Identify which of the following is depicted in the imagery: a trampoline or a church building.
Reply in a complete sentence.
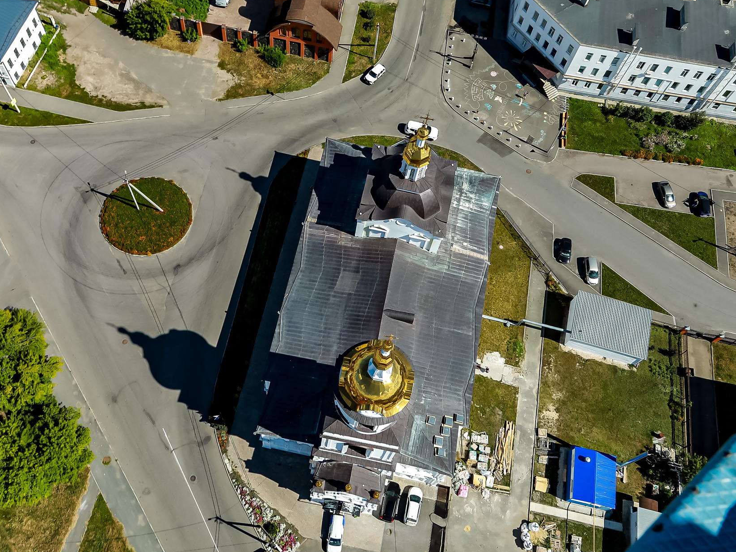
Visible in the photo is a church building.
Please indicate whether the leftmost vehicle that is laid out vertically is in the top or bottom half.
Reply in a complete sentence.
The leftmost vehicle that is laid out vertically is in the bottom half of the image.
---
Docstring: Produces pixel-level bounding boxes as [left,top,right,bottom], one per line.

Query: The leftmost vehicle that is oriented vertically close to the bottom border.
[325,512,345,552]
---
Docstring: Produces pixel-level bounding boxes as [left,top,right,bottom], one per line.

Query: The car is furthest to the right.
[692,192,716,217]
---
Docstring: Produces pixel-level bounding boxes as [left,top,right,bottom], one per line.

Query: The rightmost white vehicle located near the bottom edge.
[401,485,426,531]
